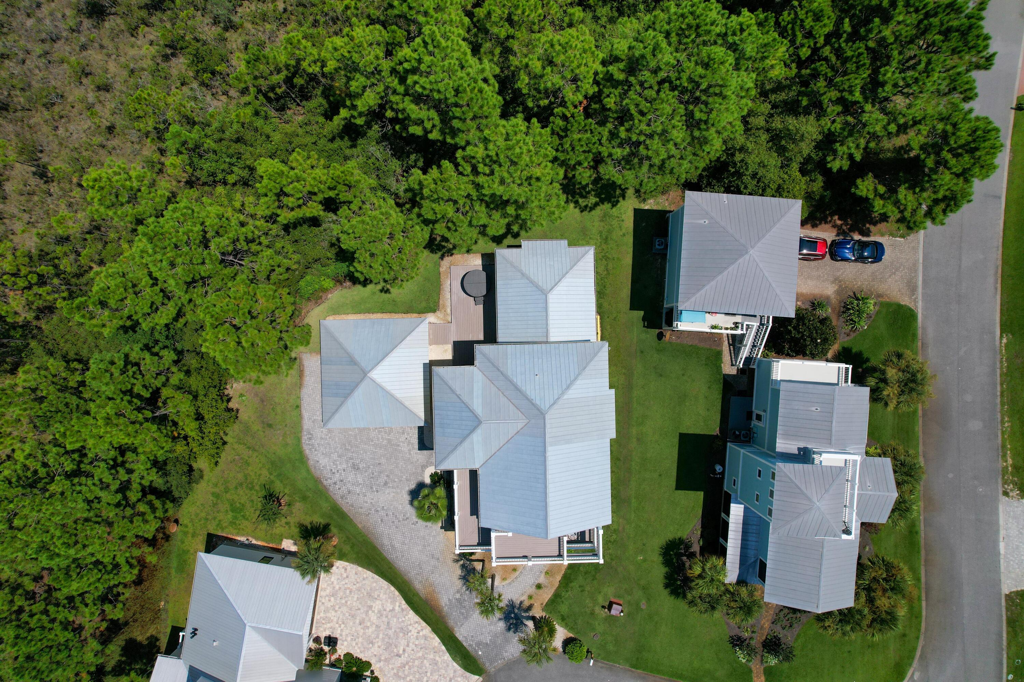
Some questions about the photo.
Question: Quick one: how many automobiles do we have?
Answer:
2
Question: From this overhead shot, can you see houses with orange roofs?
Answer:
No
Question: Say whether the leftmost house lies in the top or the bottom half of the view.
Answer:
bottom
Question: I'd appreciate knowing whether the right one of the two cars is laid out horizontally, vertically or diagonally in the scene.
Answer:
horizontally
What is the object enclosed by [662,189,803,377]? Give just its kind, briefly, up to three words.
house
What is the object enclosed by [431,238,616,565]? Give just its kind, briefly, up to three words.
house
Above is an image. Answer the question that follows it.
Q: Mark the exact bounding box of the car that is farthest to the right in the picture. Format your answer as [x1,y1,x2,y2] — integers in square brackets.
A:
[827,237,887,265]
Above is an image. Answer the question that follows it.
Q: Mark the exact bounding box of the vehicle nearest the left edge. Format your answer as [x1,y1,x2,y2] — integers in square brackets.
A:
[798,234,829,260]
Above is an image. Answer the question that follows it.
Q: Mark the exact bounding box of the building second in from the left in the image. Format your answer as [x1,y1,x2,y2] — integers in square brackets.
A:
[319,316,432,429]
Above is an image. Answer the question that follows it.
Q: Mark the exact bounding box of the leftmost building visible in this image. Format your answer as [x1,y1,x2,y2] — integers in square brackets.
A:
[149,540,344,682]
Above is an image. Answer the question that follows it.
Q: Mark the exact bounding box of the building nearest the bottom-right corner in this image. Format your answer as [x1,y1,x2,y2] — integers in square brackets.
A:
[718,357,898,613]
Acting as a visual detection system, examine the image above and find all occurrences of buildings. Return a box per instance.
[319,316,432,429]
[662,189,803,377]
[431,238,616,565]
[718,357,898,613]
[149,540,344,682]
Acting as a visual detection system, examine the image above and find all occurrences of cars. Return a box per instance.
[798,234,829,260]
[827,237,887,265]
